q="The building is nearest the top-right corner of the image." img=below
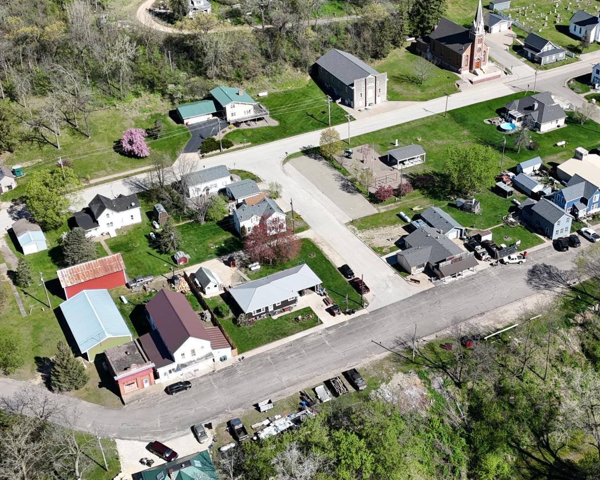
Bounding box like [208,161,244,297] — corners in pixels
[565,9,600,43]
